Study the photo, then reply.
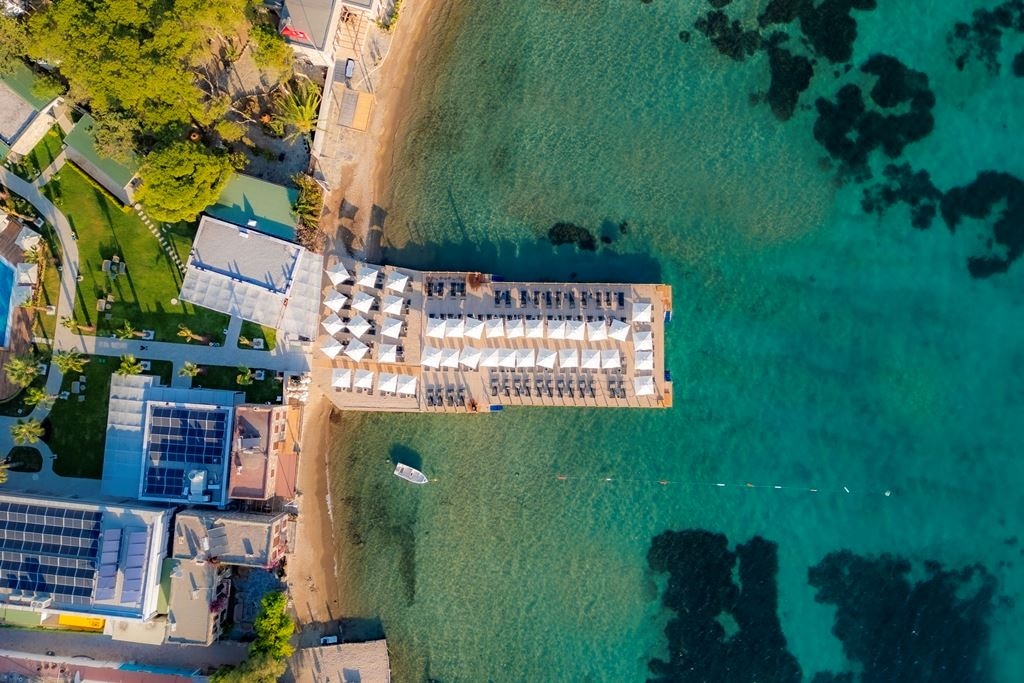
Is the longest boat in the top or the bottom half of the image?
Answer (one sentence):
The longest boat sits in the bottom half of the picture.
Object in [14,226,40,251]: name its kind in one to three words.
umbrella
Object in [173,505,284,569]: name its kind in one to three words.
house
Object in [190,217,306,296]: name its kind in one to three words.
building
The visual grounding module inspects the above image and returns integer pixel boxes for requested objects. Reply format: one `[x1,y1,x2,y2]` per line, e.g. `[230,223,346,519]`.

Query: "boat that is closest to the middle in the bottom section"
[392,461,428,481]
